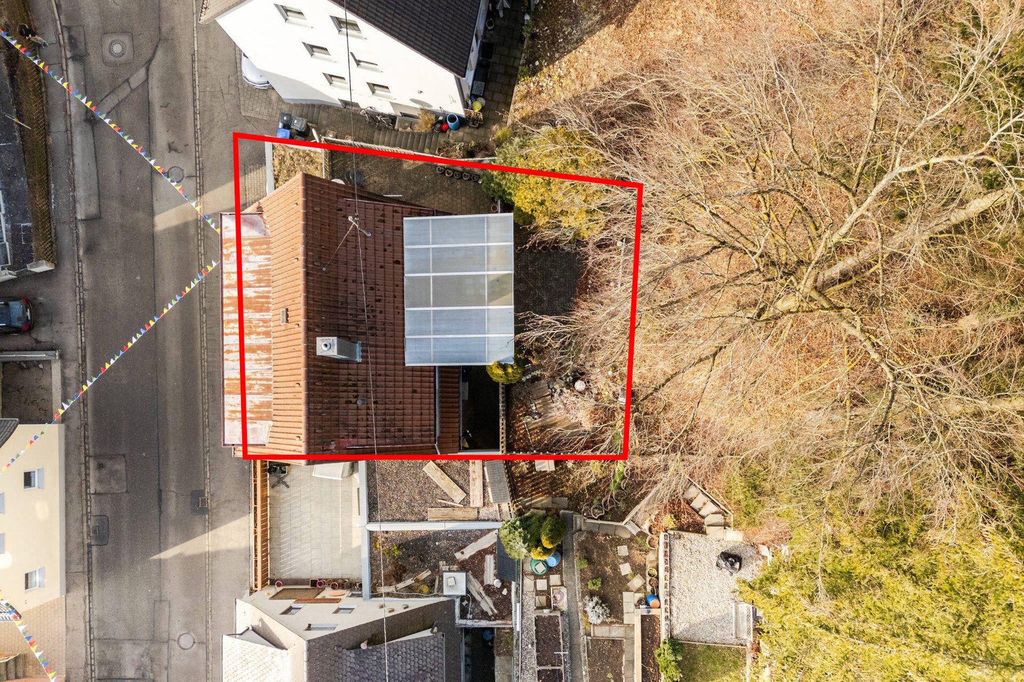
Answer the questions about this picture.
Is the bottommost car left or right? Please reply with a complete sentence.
The bottommost car sits on the left side.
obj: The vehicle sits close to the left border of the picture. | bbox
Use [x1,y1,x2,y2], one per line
[0,297,35,335]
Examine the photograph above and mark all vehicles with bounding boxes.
[0,297,35,335]
[232,42,273,92]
